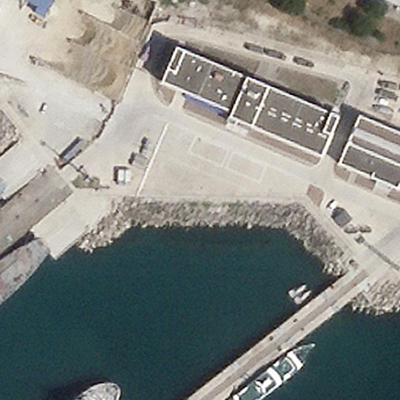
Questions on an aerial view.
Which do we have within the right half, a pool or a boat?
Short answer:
boat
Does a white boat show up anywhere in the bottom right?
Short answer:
Yes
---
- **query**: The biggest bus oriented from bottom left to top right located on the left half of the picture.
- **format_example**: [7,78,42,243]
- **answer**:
[61,139,82,162]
